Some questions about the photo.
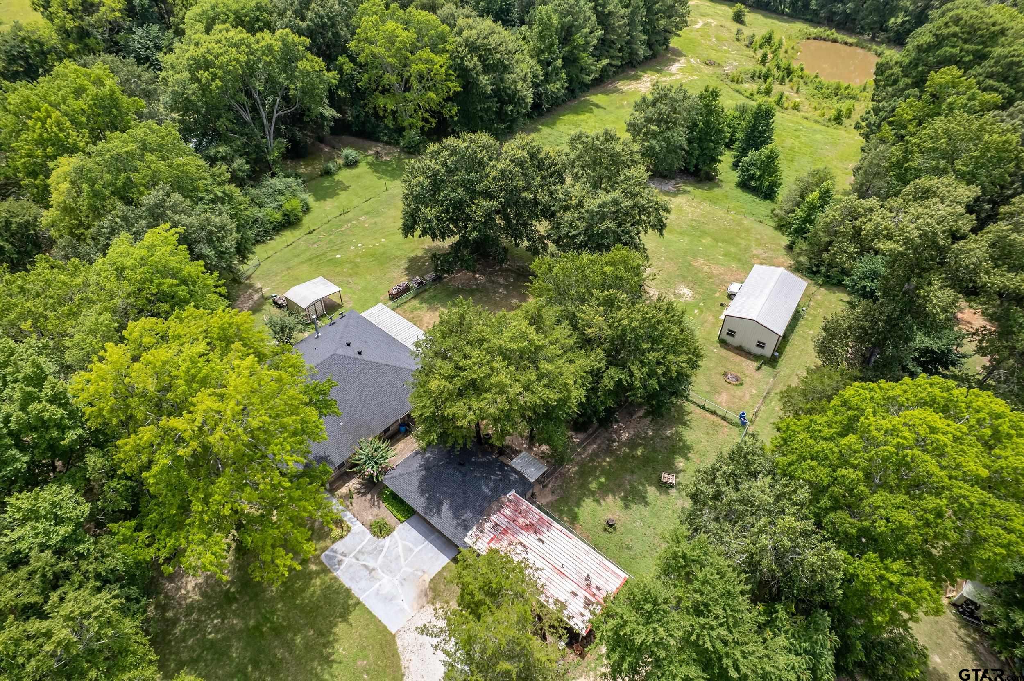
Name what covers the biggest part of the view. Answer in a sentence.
The bulk of the photo consists of trees.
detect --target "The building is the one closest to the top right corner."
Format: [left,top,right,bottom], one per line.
[716,264,809,360]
